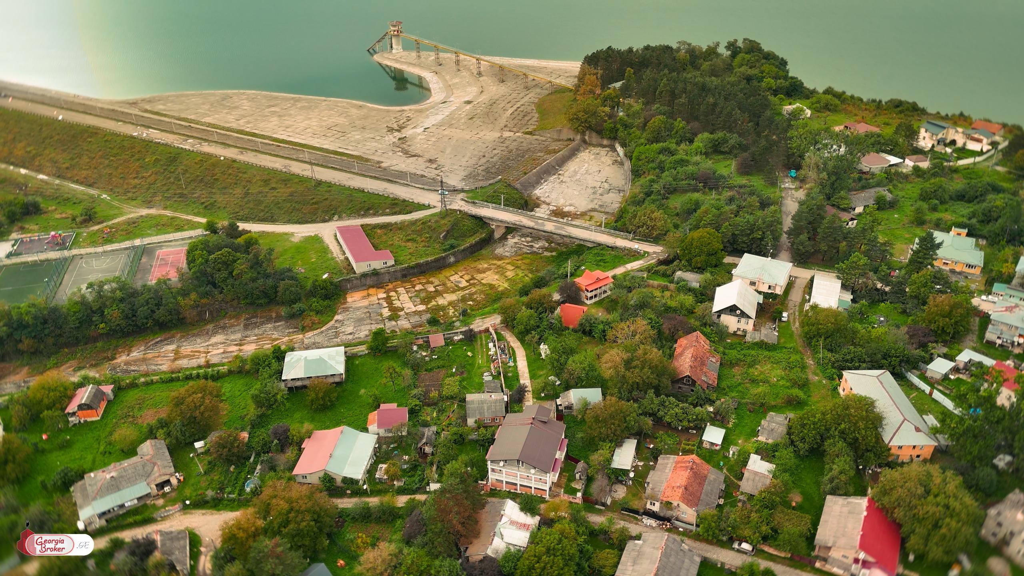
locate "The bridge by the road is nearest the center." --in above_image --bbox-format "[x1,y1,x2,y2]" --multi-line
[459,200,656,253]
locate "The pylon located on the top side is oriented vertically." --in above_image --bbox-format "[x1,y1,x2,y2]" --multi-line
[436,169,449,213]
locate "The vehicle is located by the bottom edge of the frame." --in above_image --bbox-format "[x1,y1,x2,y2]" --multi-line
[734,543,755,556]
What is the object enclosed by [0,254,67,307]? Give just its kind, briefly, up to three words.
soccer field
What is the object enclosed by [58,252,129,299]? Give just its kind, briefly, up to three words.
basketball court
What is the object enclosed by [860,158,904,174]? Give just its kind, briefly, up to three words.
house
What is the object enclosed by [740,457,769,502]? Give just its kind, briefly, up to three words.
shed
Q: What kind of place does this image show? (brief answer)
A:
residential area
